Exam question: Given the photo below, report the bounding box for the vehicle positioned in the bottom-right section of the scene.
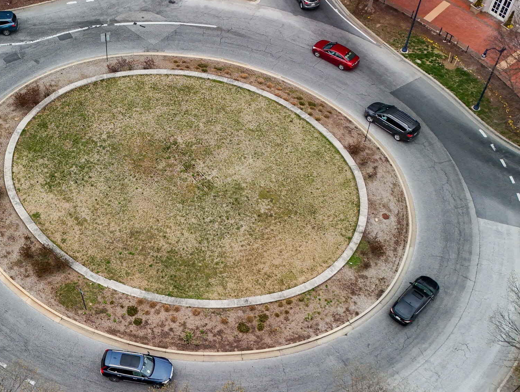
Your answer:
[387,274,443,328]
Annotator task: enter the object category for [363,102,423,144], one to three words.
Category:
car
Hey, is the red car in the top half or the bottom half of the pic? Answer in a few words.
top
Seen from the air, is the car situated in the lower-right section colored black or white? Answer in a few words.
black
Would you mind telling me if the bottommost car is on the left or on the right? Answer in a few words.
left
